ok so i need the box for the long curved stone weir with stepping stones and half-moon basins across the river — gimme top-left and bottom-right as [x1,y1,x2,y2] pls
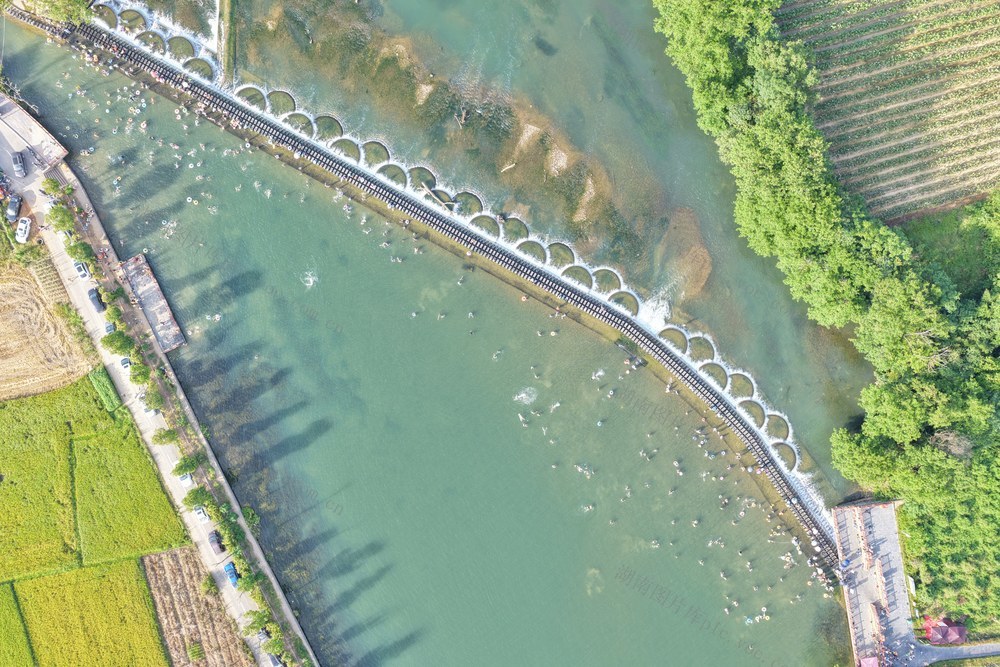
[70,3,840,564]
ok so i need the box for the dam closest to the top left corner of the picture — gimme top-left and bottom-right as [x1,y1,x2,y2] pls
[0,7,79,57]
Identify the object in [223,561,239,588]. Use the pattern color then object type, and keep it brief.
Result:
blue car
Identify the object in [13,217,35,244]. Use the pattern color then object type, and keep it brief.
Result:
white car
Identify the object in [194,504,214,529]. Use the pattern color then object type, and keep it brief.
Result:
white car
